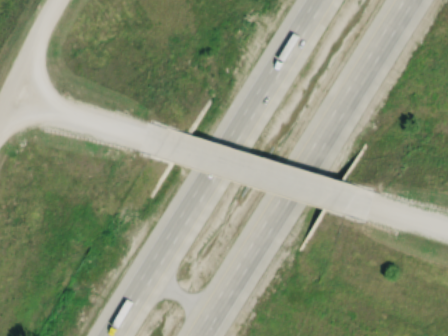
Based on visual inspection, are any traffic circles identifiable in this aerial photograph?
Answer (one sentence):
No, there isn't any traffic circle down there.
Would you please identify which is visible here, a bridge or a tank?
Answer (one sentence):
Of the two, only a bridge appears.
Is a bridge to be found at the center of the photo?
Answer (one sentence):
Yes, a bridge appears at the center of the photo.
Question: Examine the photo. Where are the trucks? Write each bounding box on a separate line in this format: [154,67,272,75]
[108,300,132,335]
[274,34,299,70]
